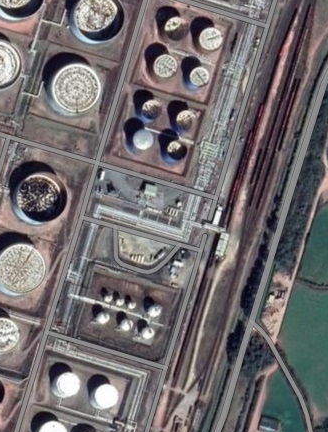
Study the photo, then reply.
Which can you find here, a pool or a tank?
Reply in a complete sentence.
It is a tank that can be seen here.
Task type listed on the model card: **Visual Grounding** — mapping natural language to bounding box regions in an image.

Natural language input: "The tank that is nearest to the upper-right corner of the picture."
[193,27,225,56]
